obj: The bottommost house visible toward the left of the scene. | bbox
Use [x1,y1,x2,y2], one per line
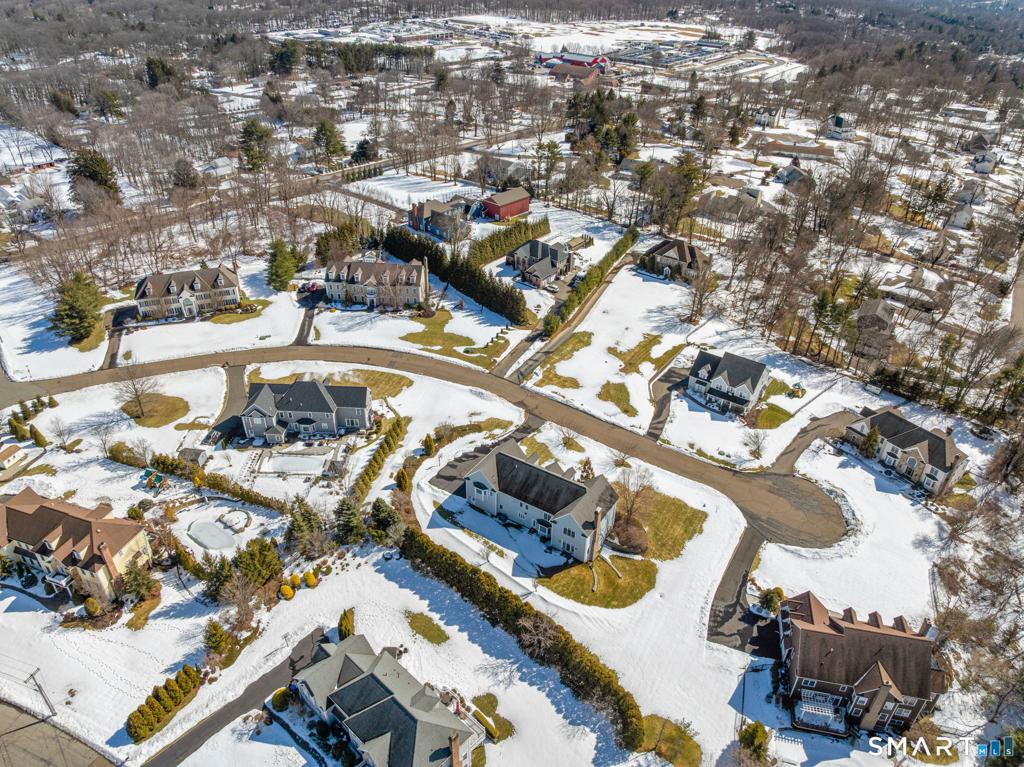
[292,627,490,767]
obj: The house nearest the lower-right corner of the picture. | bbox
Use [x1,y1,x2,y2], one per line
[773,587,950,735]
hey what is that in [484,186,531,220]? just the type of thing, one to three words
barn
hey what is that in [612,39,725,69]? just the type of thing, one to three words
building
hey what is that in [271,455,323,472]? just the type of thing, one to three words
swimming pool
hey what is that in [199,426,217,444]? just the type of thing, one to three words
car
